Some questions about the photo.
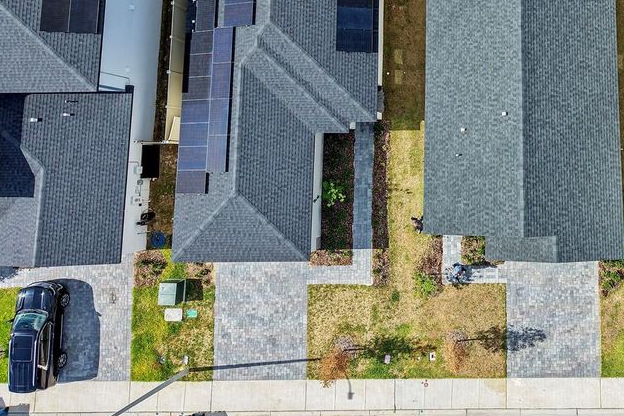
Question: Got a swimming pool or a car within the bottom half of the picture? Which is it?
car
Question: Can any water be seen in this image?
No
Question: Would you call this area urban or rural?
urban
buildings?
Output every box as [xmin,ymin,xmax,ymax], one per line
[172,0,385,262]
[424,0,624,264]
[0,0,160,271]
